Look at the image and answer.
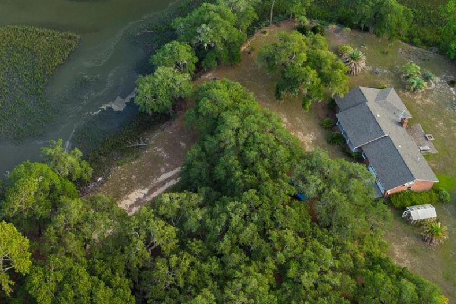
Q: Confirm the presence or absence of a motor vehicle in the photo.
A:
No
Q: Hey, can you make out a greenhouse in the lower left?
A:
No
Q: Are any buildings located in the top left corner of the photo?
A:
No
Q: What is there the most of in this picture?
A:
trees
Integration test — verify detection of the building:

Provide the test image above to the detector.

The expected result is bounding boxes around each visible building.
[333,85,440,200]
[402,207,443,234]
